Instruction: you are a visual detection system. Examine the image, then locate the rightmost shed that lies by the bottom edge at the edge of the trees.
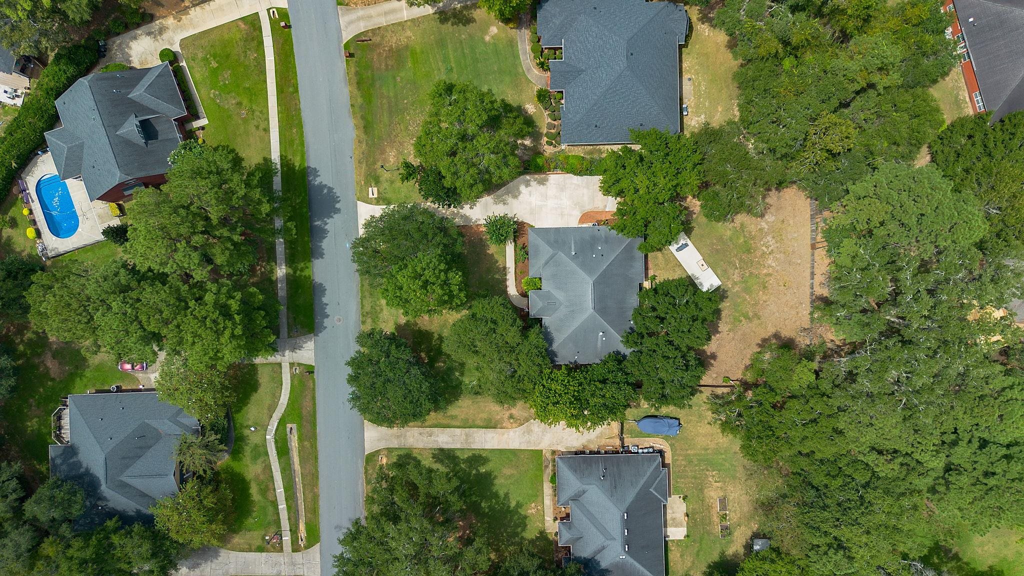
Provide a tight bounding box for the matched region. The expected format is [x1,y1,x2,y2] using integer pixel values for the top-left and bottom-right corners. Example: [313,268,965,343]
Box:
[748,533,771,553]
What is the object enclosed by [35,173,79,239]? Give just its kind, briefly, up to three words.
swimming pool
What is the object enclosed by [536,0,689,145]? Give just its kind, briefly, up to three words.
house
